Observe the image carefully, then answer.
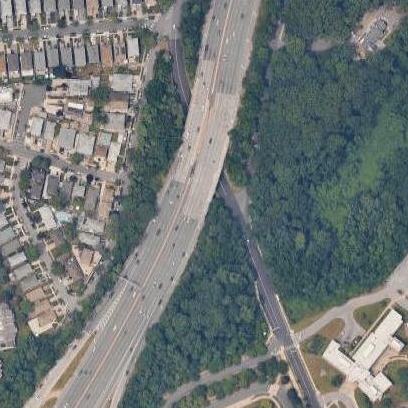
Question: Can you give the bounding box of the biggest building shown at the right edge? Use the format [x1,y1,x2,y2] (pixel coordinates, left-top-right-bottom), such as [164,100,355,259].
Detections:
[321,310,405,403]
